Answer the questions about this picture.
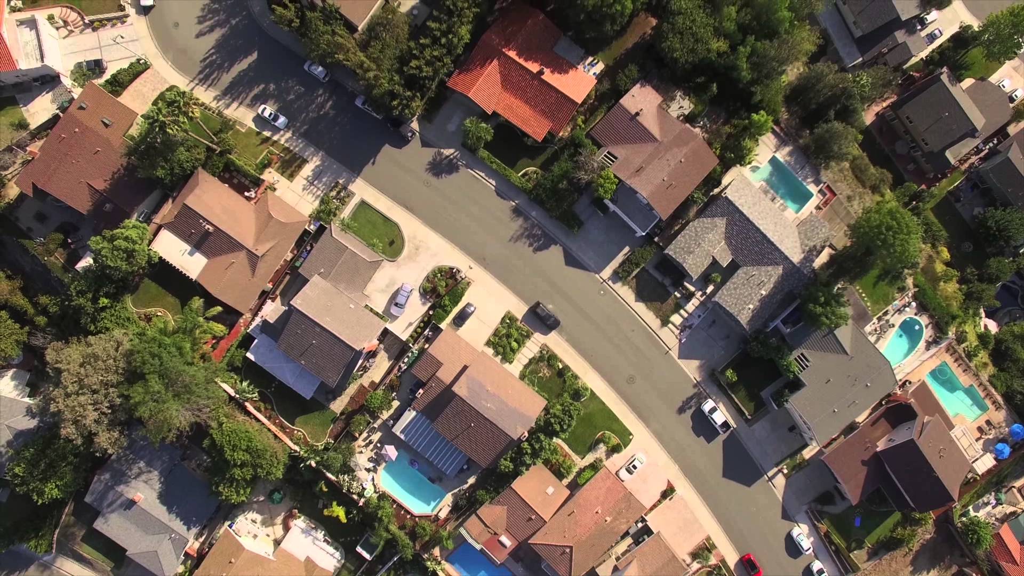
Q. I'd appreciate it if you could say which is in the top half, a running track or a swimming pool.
swimming pool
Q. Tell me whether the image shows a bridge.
No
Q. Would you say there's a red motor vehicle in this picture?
Yes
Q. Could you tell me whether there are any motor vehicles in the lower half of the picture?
Yes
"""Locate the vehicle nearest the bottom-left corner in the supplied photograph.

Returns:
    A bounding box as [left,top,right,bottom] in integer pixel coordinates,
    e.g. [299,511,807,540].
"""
[390,280,413,318]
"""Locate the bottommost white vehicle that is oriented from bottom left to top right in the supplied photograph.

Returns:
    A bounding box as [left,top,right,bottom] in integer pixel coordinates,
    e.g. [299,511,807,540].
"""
[616,451,648,483]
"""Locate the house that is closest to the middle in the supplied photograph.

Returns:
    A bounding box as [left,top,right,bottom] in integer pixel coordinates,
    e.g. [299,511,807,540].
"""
[393,326,545,475]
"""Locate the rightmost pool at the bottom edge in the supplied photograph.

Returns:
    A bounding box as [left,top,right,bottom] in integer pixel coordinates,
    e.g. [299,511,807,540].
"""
[444,535,514,576]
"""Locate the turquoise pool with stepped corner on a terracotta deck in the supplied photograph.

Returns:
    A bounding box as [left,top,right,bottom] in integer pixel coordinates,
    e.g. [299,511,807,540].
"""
[925,359,993,425]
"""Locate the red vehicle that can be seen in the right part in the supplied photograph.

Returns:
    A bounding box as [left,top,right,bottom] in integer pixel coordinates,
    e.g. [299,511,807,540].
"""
[739,551,763,576]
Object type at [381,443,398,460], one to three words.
umbrella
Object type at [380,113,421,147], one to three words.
truck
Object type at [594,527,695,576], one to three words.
house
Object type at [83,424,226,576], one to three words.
house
